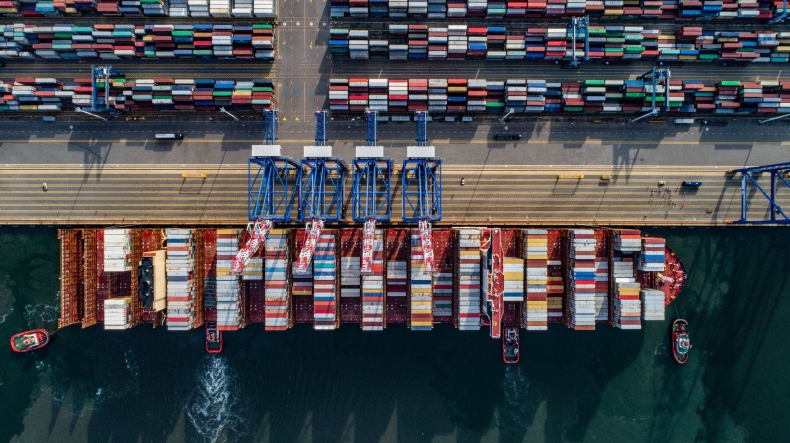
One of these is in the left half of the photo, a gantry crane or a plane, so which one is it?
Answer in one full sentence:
Looking in the left half of the photo, you will find a gantry crane.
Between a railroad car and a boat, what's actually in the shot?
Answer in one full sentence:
Looking from above, you can make out a boat.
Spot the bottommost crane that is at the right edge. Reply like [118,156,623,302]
[727,159,790,223]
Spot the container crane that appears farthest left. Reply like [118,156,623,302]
[92,66,127,118]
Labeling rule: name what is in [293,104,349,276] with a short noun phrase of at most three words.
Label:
container crane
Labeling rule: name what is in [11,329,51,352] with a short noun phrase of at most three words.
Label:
boat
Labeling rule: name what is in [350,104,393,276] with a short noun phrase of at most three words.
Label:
container crane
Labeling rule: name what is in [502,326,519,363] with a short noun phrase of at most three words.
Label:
boat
